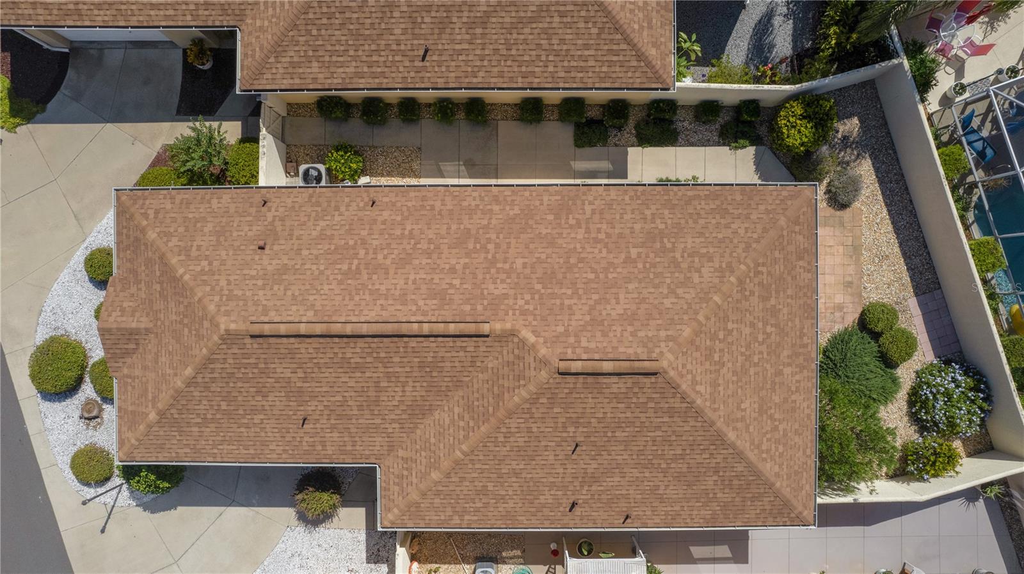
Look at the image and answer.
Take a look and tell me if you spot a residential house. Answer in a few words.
Yes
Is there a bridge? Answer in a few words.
No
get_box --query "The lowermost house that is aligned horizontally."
[95,186,818,529]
